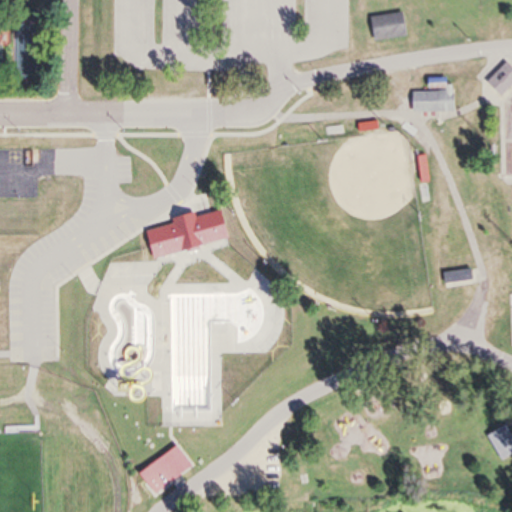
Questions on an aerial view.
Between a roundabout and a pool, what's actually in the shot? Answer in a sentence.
It is a pool that can be seen here.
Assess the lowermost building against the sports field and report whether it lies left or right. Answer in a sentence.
Relative to the sports field, the lowermost building lies to the right.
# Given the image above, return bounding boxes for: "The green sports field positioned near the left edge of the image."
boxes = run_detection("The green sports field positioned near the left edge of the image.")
[0,434,42,512]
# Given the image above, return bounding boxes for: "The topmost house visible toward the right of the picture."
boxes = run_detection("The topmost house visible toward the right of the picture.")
[372,10,408,40]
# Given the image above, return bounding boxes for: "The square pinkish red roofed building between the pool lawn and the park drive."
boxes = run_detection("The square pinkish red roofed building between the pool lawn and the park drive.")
[140,447,191,495]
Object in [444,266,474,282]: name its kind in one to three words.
shed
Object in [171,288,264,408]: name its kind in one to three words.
swimming pool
